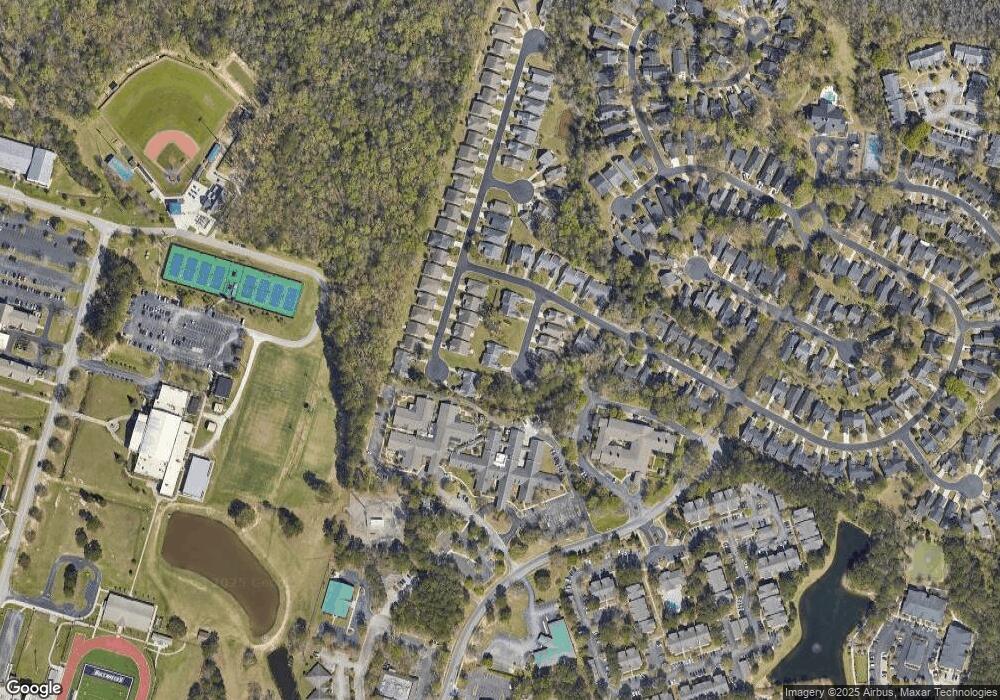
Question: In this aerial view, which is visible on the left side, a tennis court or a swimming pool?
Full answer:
Looking on the left side, you will find a tennis court.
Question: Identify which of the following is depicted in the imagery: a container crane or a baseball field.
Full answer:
Of the two, only a baseball field appears.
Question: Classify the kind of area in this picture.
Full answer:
The picture captures a residential area.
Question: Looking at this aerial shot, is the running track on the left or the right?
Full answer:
The running track is on the left side of the image.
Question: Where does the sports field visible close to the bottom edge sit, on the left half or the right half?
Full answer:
The sports field visible close to the bottom edge sits on the left side.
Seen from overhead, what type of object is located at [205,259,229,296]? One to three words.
tennis court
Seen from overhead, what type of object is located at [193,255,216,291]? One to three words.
tennis court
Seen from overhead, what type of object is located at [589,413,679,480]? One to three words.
house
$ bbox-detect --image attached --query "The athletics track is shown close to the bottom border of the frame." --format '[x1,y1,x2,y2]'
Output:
[57,634,150,700]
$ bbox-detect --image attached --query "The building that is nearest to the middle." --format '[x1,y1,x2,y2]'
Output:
[481,343,506,365]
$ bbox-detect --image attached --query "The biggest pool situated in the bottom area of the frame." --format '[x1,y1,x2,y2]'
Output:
[660,590,683,612]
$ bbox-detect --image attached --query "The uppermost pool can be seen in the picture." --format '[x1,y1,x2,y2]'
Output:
[820,86,837,104]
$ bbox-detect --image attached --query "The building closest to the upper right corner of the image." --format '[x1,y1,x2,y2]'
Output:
[951,44,992,64]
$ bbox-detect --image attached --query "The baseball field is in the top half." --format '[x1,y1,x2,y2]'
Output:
[99,57,239,196]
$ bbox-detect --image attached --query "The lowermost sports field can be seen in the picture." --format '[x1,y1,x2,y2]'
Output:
[68,645,139,700]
